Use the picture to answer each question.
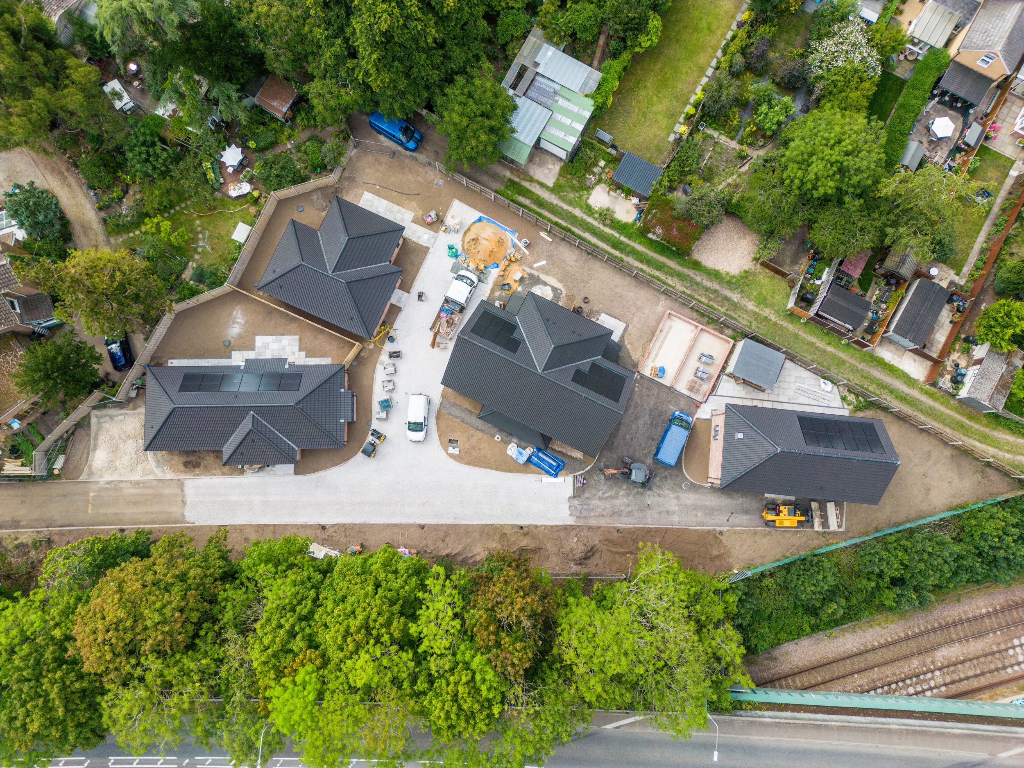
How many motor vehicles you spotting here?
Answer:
8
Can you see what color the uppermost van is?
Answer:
blue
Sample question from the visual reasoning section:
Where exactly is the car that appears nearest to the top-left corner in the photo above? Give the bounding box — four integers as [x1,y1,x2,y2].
[107,327,136,379]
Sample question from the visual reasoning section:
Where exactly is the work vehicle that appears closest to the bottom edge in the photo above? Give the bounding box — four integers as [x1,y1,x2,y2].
[760,503,815,531]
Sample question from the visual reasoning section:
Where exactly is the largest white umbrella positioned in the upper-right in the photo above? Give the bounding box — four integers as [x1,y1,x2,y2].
[926,117,954,141]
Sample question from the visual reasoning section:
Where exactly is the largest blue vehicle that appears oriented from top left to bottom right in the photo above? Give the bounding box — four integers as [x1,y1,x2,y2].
[368,109,424,157]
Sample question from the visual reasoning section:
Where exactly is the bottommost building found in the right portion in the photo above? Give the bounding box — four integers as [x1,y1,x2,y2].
[708,403,901,506]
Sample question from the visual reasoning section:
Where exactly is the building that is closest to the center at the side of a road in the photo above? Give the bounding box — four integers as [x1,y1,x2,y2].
[441,290,636,459]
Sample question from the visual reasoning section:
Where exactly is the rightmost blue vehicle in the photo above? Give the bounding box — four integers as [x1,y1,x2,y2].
[651,410,689,469]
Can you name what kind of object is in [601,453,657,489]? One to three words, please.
work vehicle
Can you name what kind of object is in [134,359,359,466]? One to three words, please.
house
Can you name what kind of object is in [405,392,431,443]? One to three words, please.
vehicle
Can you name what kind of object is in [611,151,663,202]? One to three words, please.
shed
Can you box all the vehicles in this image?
[651,410,689,469]
[427,277,474,345]
[368,109,424,157]
[107,327,136,379]
[601,453,657,489]
[405,392,431,443]
[360,425,394,463]
[760,503,815,531]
